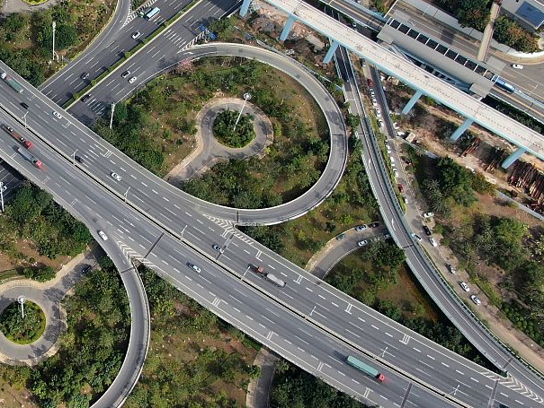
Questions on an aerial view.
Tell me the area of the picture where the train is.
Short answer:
top right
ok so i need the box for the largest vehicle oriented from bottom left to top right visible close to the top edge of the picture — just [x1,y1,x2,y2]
[142,2,163,21]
